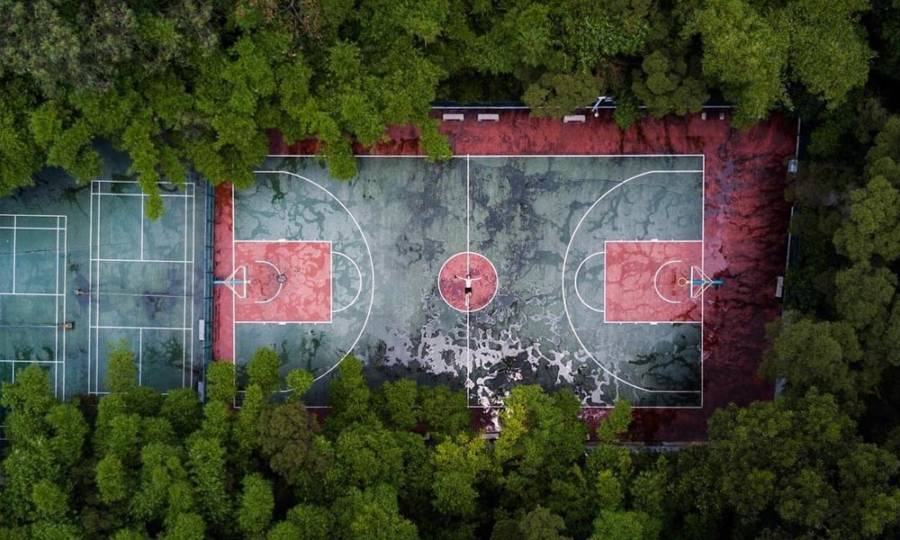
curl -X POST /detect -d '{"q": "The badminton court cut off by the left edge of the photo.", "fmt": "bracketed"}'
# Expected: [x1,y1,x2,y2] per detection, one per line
[0,214,67,425]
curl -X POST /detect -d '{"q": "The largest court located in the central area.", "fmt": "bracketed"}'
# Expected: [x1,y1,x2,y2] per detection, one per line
[215,108,799,441]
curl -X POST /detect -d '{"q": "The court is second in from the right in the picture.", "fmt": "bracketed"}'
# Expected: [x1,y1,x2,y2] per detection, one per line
[88,180,194,406]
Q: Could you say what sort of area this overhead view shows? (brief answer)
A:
sports ground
